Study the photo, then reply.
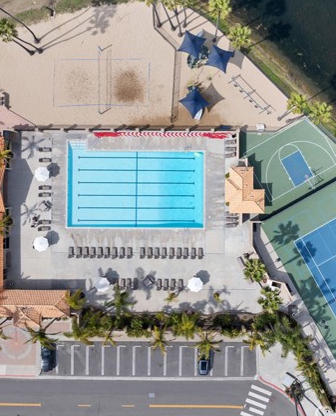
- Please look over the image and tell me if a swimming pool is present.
Yes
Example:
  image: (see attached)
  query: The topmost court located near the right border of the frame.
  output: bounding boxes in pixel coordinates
[240,117,336,220]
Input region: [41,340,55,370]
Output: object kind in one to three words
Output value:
car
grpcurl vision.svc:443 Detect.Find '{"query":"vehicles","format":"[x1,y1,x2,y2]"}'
[41,340,55,370]
[198,345,211,374]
